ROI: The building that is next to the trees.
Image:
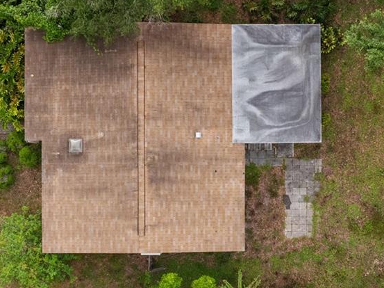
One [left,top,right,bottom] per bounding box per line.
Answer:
[25,24,322,259]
